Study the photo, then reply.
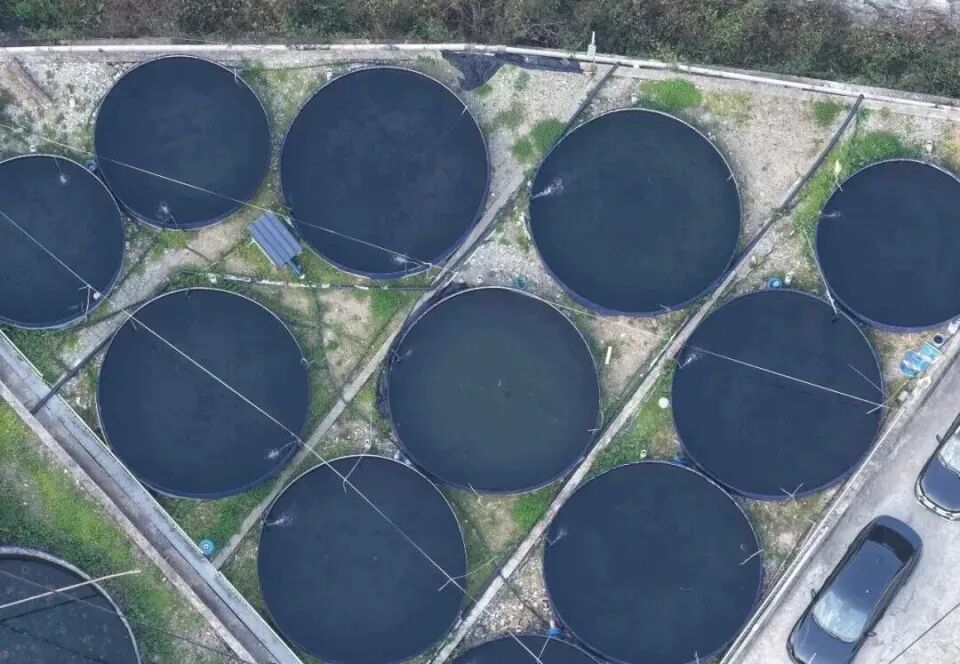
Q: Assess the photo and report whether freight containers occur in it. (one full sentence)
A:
No, I can't see a single freight container in this photo.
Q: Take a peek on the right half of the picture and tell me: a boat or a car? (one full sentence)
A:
The one visible on the right half of the picture is a car.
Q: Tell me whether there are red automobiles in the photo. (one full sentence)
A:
No, the photo shows no red automobile.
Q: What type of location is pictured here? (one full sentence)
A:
The picture captures an industrial area.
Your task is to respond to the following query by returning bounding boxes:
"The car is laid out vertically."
[914,412,960,521]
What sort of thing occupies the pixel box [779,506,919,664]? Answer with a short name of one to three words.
car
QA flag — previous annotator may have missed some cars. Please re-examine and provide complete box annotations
[914,412,960,521]
[779,506,919,664]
